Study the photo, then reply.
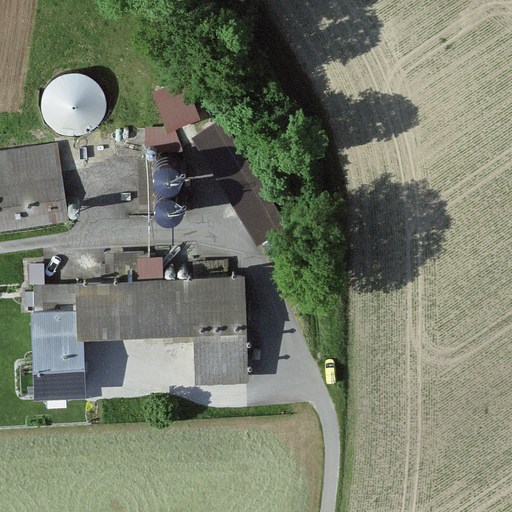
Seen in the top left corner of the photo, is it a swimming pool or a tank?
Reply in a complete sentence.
What appears in the top left corner of the photo is a tank.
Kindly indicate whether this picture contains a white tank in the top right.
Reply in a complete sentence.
No, the scene shows no white tank in the top right.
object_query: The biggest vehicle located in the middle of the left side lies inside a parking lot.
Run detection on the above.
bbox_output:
[45,254,62,276]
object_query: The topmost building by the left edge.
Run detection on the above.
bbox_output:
[0,142,68,232]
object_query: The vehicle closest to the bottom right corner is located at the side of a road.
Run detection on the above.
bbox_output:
[324,358,336,384]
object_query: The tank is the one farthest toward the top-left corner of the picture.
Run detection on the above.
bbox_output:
[39,68,108,138]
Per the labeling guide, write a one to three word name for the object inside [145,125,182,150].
shed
